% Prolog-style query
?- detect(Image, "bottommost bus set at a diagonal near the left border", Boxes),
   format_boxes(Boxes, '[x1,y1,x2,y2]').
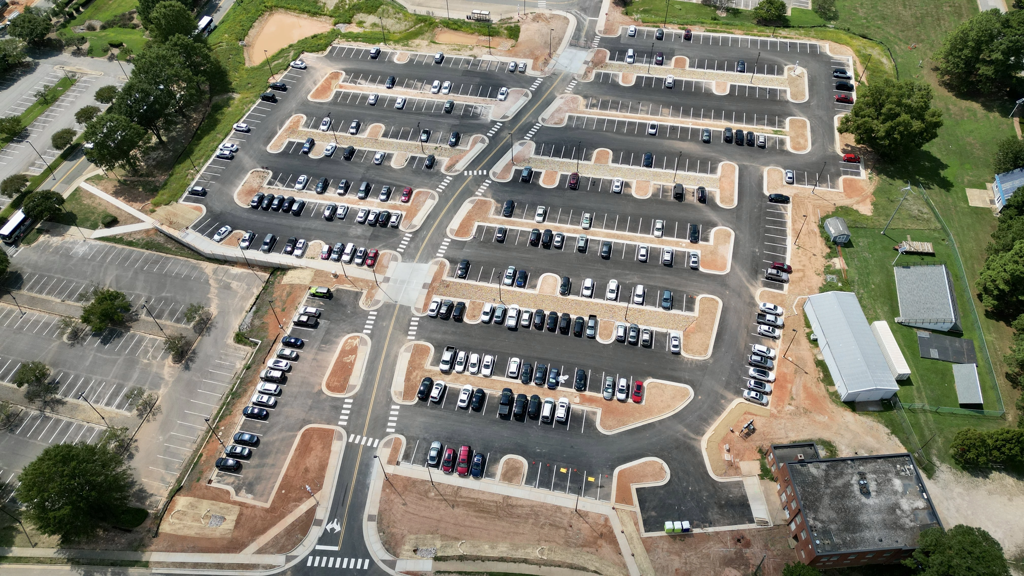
[0,201,32,245]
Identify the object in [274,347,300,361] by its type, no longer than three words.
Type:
car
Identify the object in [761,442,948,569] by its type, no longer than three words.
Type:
building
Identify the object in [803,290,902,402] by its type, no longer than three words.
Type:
building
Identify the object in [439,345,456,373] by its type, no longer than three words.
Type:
vehicle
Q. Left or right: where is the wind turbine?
right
